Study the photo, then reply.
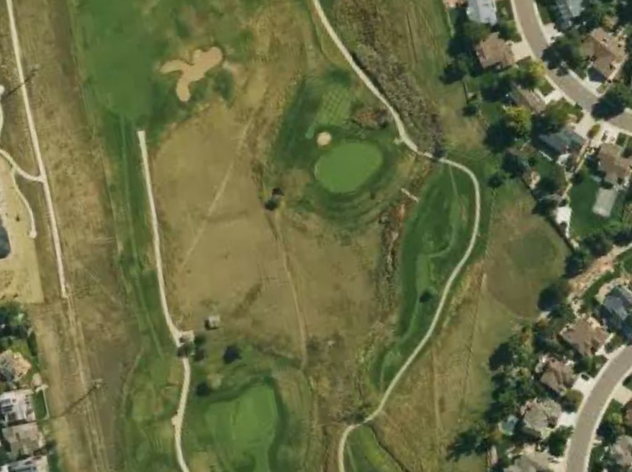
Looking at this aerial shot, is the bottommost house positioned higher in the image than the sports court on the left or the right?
right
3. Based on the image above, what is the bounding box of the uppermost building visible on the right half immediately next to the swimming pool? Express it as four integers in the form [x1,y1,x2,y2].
[515,394,565,439]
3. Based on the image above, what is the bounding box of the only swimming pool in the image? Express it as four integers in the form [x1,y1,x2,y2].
[499,417,517,435]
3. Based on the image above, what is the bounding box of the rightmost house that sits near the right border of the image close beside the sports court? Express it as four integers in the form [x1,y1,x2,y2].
[593,145,632,188]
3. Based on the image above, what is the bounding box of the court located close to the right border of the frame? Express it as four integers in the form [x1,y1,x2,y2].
[593,187,616,217]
